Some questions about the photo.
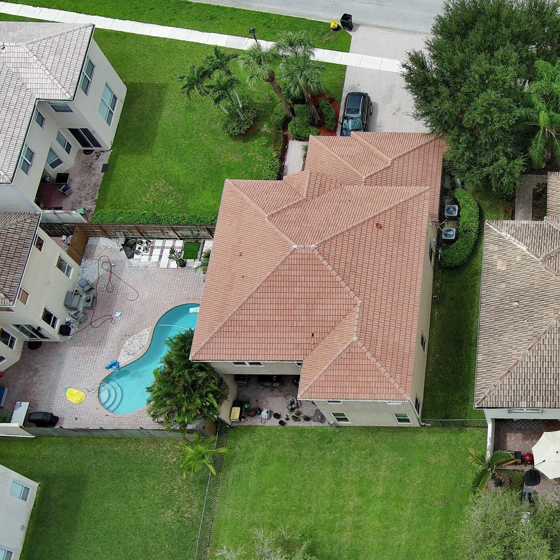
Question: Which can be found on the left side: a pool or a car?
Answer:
pool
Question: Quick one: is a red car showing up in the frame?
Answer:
No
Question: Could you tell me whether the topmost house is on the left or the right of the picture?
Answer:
left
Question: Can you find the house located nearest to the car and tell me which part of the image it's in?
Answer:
center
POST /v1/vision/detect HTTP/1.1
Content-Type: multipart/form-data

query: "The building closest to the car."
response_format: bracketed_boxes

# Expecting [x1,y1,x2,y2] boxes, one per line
[189,131,445,428]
